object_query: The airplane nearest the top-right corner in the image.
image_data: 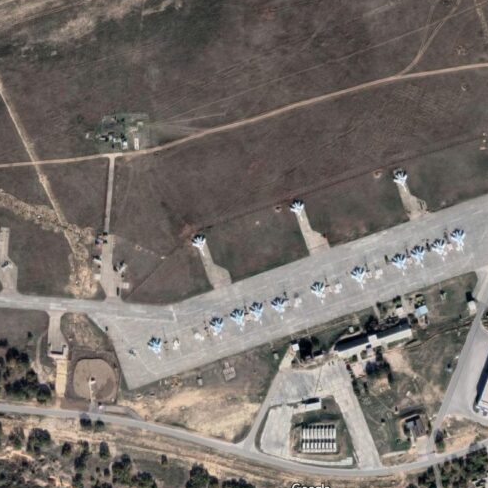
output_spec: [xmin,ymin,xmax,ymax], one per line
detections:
[393,167,407,189]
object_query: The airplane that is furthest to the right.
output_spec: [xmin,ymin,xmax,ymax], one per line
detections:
[451,229,465,250]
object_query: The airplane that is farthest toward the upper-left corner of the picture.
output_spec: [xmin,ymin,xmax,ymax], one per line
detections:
[190,232,204,254]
